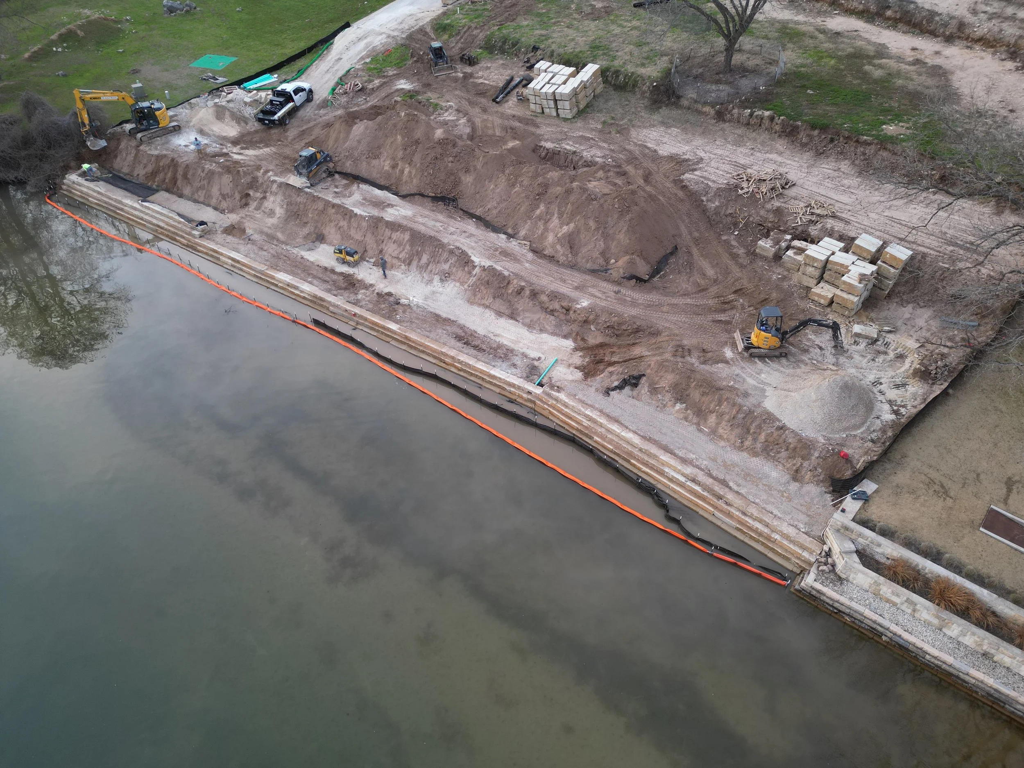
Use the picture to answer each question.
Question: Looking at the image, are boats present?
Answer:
No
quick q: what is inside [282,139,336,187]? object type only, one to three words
work vehicle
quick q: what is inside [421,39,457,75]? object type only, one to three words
work vehicle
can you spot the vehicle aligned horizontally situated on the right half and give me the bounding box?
[728,303,847,359]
